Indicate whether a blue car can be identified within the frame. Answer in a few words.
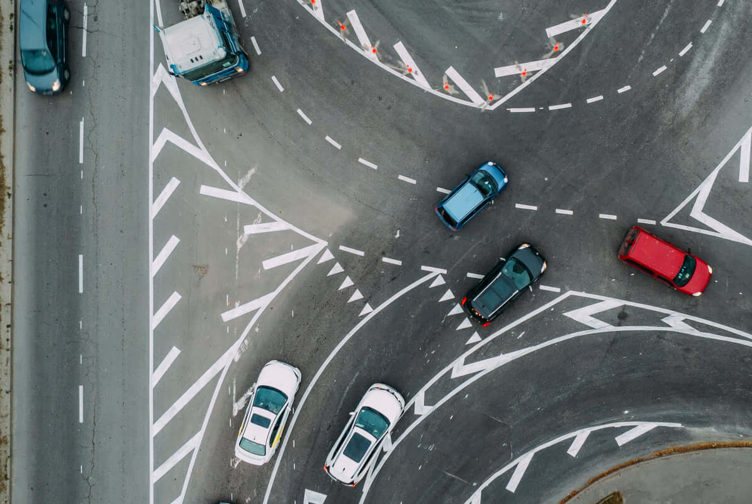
Yes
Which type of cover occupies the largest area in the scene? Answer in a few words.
paved ground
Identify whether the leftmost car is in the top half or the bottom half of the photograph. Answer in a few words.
top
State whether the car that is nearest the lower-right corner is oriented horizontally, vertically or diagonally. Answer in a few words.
diagonally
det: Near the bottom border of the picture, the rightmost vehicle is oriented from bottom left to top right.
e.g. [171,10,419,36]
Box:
[324,383,404,486]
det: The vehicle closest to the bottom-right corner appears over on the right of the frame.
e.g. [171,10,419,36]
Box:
[462,241,548,327]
